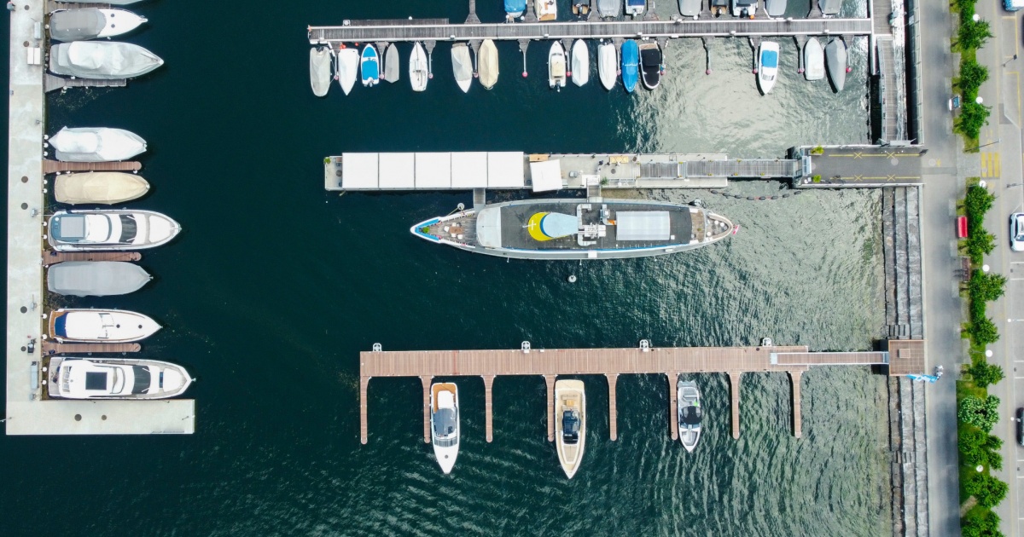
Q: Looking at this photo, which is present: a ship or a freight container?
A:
ship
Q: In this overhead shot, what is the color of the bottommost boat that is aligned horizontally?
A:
white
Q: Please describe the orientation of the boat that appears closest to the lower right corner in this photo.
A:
up and down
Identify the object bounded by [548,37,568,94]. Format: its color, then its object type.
white boat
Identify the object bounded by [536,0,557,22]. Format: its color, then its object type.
white boat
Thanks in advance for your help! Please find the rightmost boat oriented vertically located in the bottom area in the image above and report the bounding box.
[676,374,700,452]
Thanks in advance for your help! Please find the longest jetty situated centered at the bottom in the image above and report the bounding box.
[360,338,808,444]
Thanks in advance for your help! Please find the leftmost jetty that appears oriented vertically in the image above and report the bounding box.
[6,0,197,434]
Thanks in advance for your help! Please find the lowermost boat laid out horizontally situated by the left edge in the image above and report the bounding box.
[43,351,194,401]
